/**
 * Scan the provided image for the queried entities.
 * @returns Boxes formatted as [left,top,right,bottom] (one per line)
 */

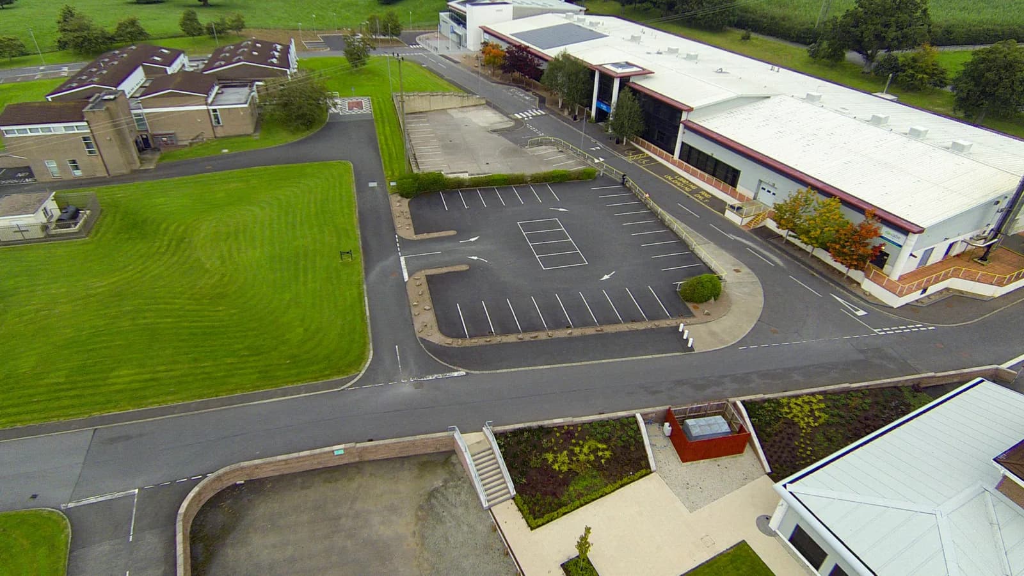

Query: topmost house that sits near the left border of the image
[0,39,291,179]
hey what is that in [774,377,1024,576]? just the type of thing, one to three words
building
